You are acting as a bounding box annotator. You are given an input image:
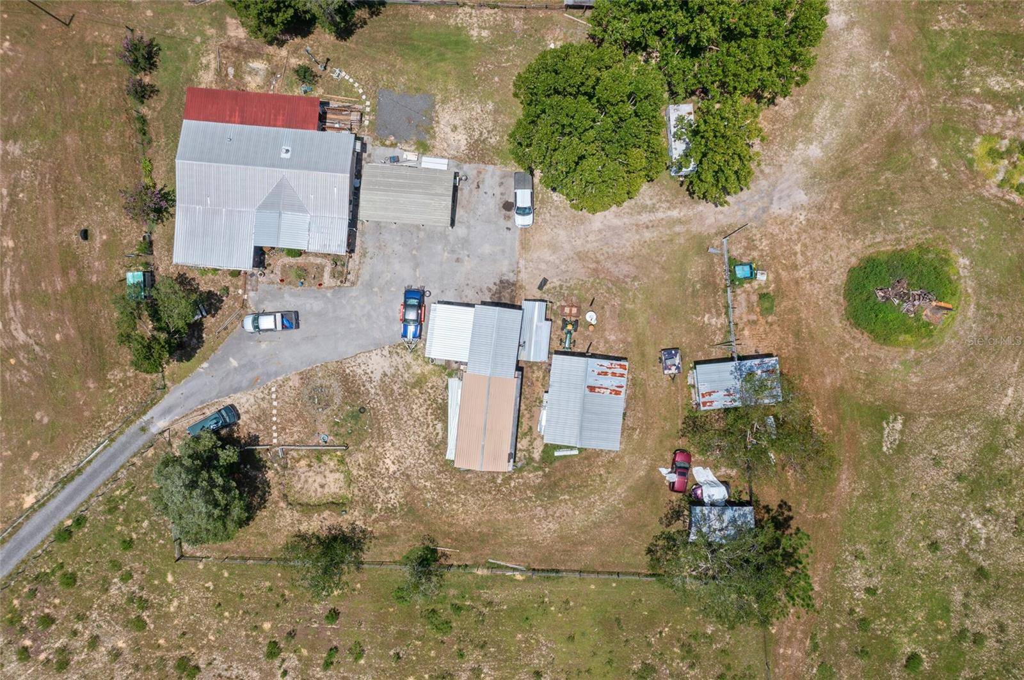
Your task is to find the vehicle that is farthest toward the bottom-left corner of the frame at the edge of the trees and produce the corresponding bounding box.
[184,403,243,440]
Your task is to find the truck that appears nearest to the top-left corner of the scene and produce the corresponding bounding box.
[243,311,301,335]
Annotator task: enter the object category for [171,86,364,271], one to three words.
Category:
house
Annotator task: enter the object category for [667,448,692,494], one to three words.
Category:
car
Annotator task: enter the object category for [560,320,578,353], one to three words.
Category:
work vehicle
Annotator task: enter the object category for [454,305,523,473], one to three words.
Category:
building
